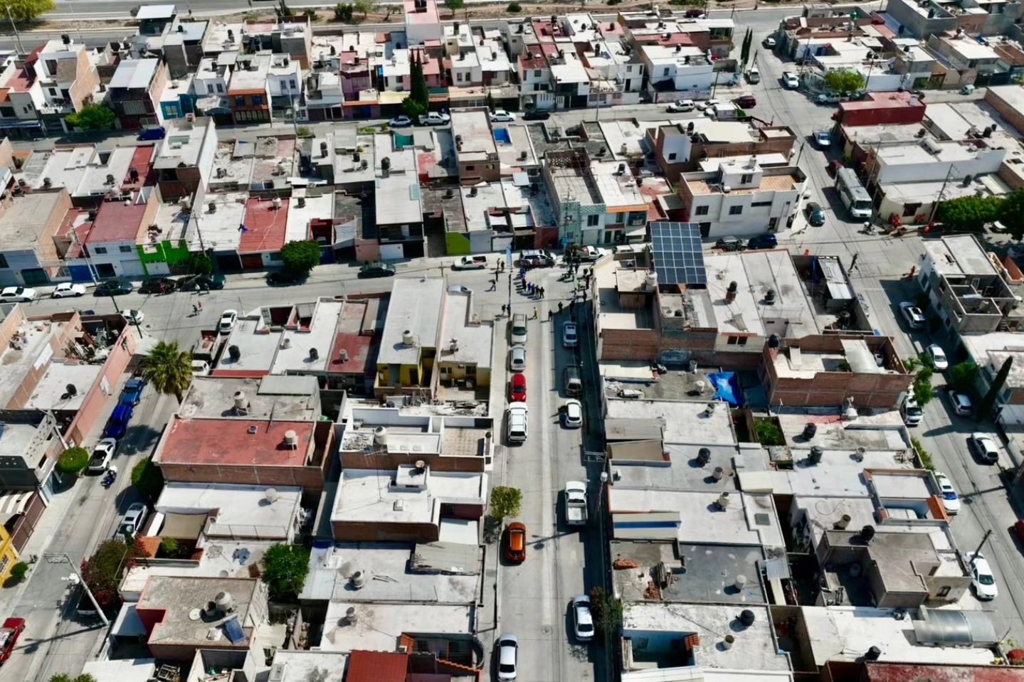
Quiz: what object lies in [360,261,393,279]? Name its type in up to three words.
car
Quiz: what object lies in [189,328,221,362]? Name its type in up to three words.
truck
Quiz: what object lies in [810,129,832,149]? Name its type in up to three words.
vehicle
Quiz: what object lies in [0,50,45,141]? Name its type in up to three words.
house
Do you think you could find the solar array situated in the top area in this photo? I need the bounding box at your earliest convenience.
[648,222,706,299]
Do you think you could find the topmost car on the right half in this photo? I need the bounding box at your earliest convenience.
[683,7,709,19]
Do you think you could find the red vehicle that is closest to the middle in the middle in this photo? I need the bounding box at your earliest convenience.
[509,373,527,404]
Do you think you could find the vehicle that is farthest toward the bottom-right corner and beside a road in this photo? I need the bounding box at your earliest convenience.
[961,554,1004,602]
